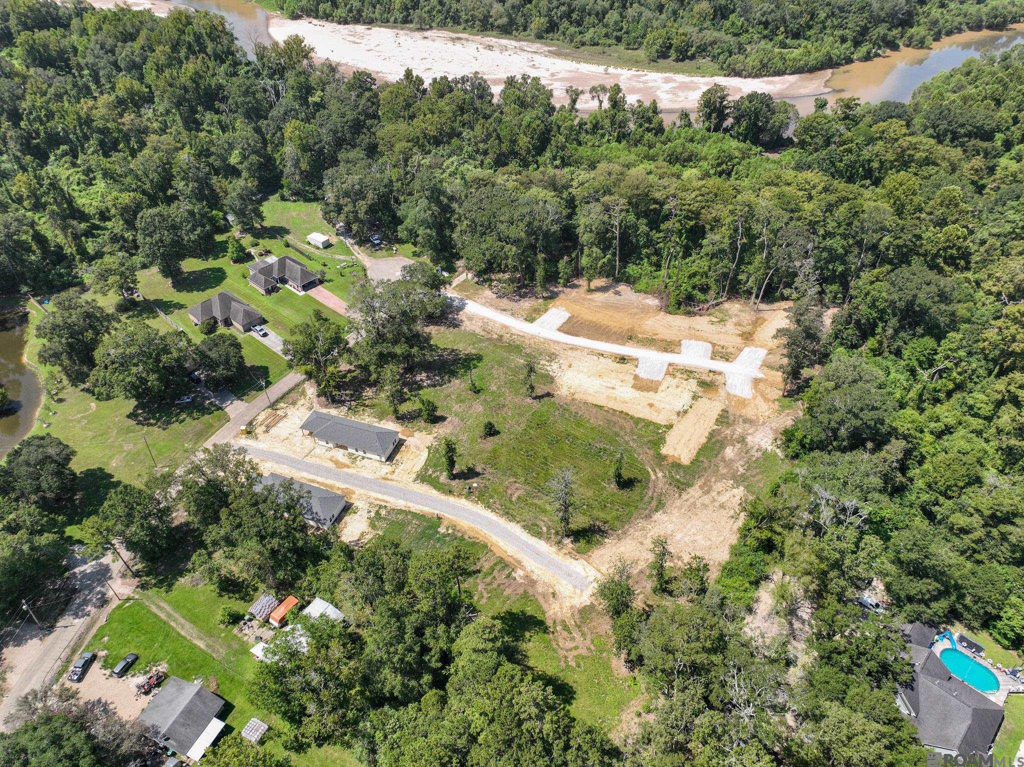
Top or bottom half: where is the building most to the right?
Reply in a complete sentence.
It is in the bottom half that the building most to the right appears.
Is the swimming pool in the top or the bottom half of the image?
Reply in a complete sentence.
Seen from above, the swimming pool lies in the bottom half of the view.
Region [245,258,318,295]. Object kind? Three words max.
house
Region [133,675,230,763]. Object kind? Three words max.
house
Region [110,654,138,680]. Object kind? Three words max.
car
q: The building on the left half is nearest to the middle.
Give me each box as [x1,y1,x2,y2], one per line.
[299,409,401,463]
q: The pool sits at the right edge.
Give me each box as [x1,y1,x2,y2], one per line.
[931,642,1009,701]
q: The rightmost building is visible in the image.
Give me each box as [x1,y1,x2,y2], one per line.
[889,618,1004,767]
